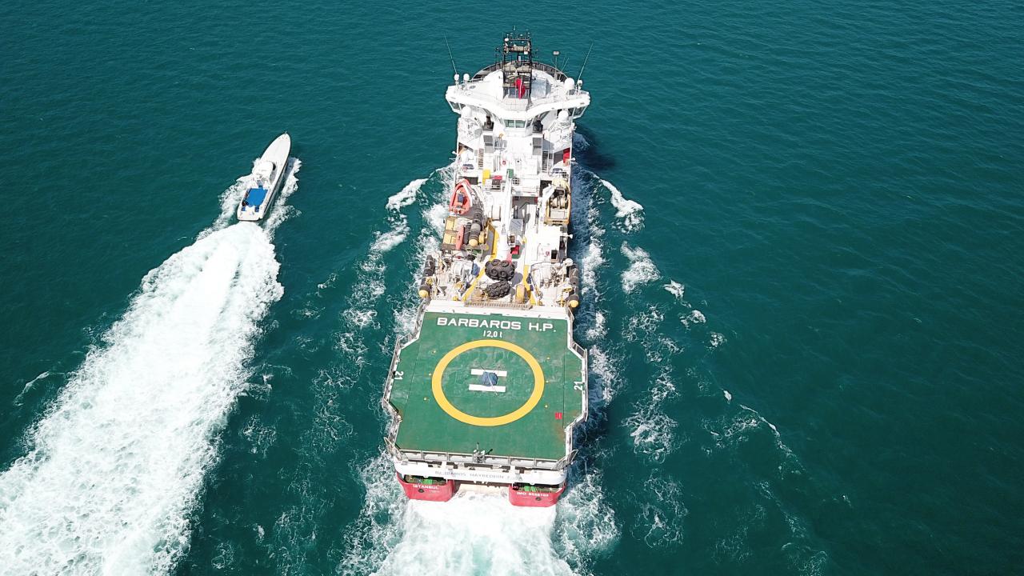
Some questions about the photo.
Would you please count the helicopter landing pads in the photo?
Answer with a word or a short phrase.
1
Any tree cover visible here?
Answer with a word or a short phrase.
No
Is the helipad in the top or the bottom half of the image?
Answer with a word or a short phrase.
bottom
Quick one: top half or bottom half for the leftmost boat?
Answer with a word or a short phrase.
top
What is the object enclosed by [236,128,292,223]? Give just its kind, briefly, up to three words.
boat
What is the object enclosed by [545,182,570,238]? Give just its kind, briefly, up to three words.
boat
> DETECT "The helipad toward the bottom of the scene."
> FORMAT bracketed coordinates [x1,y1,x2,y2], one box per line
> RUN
[384,298,587,472]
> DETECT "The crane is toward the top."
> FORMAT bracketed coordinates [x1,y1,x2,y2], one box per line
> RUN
[494,176,518,261]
